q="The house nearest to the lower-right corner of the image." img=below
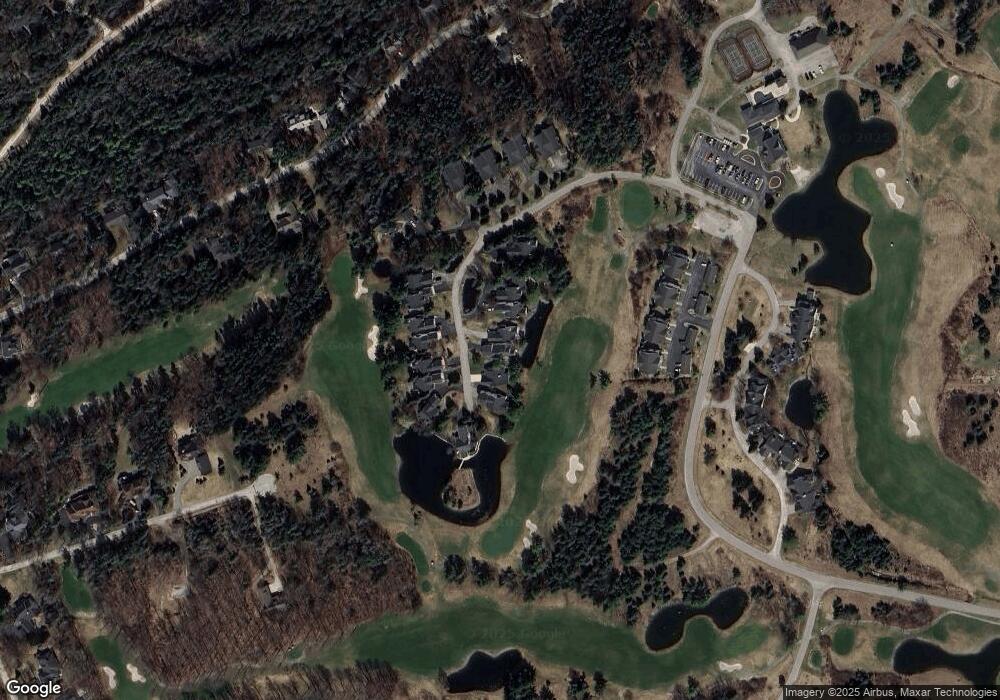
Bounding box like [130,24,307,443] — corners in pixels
[785,473,817,512]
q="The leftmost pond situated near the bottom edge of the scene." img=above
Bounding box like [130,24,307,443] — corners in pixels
[446,650,529,692]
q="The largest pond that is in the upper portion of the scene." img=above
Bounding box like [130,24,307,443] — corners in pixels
[773,90,896,294]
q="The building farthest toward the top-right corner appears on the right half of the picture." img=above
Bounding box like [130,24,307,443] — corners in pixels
[787,27,829,62]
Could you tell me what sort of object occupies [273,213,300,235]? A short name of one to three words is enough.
house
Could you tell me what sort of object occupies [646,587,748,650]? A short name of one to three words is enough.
pond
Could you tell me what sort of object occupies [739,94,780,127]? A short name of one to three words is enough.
building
